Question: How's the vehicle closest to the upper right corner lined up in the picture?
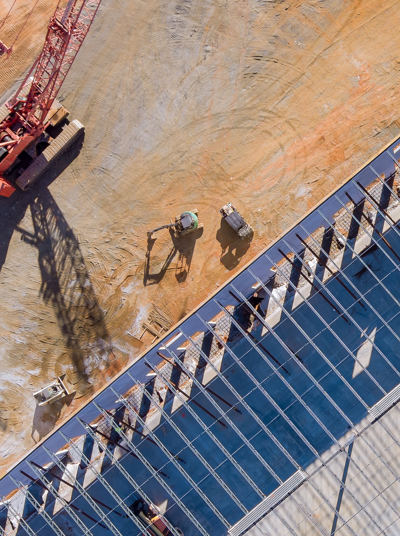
at an angle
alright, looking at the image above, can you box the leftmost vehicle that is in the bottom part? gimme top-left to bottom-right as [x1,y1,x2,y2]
[28,376,79,407]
